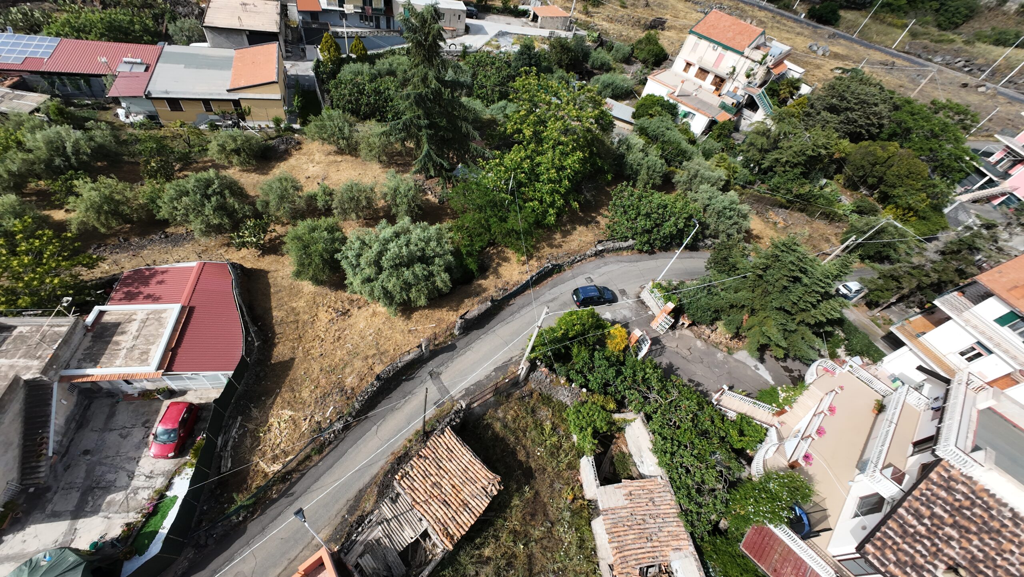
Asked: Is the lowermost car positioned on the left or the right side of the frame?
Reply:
left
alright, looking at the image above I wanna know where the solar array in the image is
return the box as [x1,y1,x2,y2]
[0,33,60,62]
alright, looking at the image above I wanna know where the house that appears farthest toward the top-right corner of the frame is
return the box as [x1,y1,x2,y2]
[956,120,1024,228]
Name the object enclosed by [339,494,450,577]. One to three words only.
shed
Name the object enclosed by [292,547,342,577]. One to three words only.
building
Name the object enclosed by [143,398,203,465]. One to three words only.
car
